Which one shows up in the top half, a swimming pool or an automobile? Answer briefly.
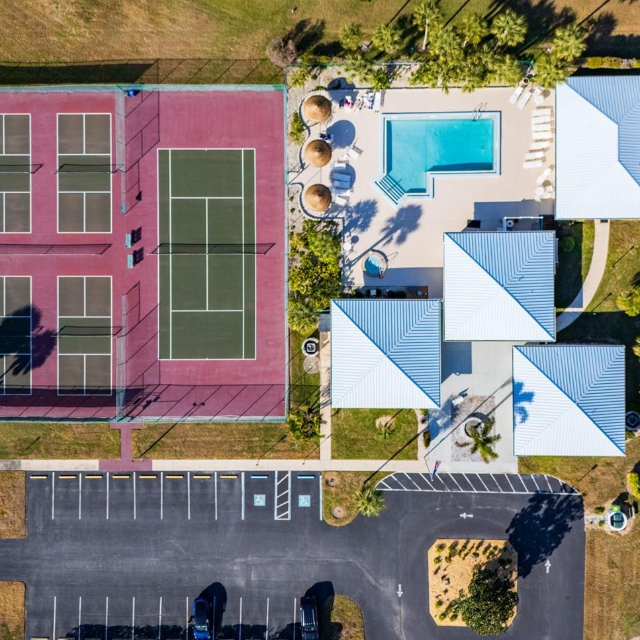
swimming pool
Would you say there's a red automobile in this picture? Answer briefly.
No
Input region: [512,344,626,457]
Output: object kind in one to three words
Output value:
building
